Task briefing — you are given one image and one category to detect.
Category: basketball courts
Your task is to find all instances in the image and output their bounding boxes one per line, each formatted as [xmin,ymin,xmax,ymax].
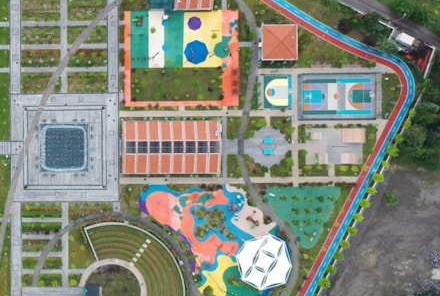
[263,75,292,109]
[299,73,379,119]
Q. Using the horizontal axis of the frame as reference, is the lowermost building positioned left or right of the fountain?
to its right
